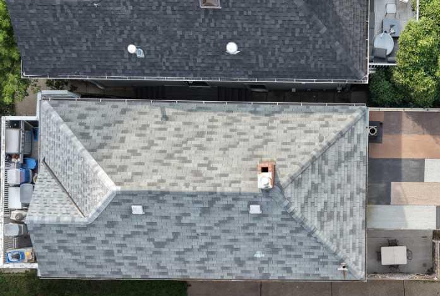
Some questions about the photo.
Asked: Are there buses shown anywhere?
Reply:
No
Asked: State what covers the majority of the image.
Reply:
buildings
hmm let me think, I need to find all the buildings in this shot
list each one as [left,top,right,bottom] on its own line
[2,0,375,96]
[22,92,370,281]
